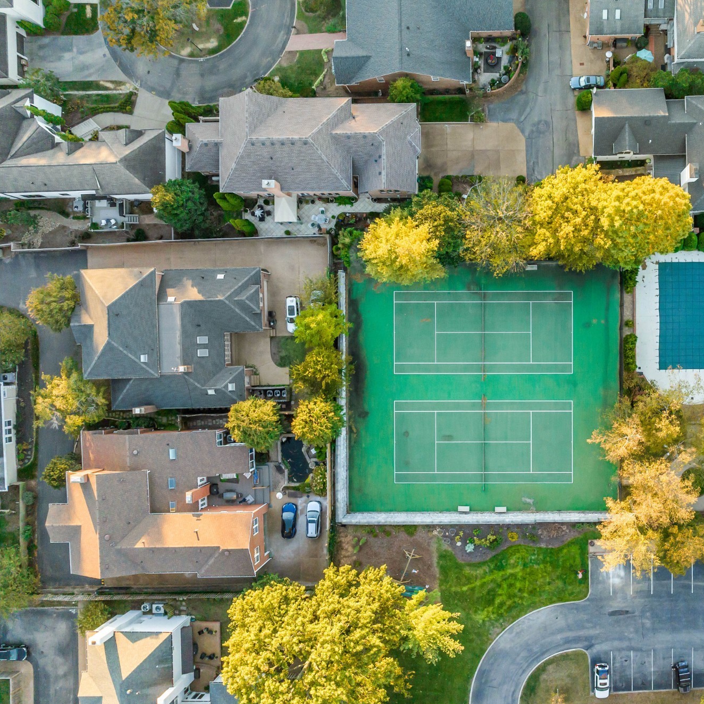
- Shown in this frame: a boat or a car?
car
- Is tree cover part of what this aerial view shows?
Yes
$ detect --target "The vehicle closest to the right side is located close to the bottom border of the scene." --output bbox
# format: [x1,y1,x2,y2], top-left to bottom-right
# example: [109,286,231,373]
[673,658,692,693]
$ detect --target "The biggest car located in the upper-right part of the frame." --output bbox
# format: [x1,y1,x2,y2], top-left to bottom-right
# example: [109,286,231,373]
[570,72,605,90]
